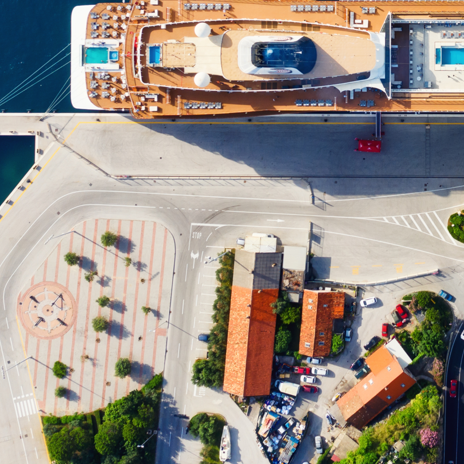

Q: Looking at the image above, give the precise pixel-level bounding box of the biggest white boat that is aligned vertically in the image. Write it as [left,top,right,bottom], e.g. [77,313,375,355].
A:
[220,424,233,463]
